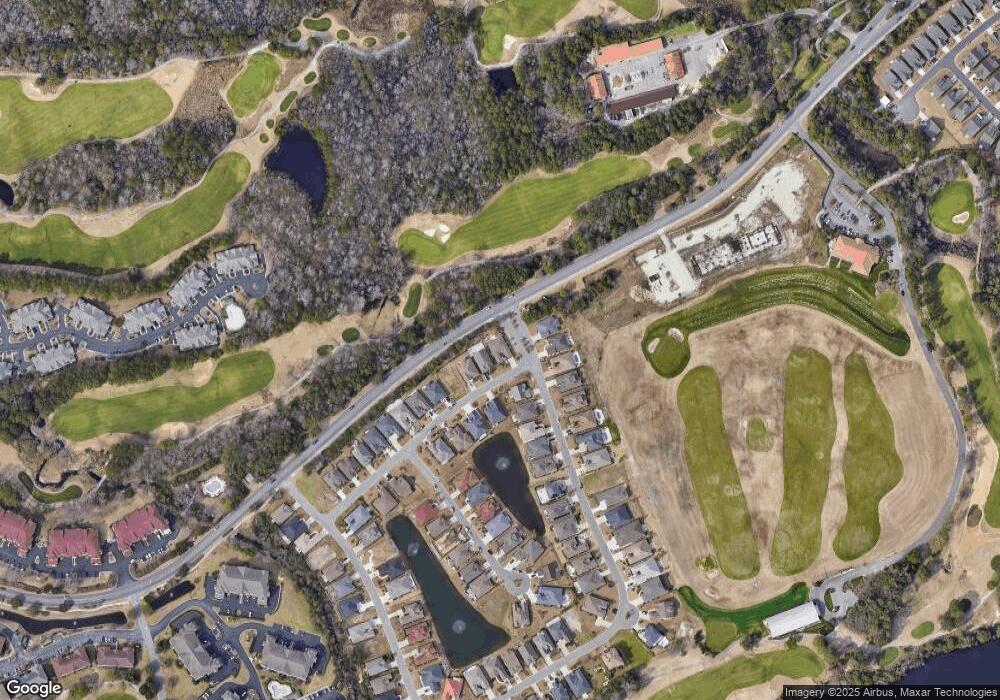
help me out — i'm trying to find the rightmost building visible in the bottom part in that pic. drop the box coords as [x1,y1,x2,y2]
[765,601,819,638]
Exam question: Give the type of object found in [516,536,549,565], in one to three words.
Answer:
house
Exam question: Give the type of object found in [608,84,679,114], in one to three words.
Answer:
shed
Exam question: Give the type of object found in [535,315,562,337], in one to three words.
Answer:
house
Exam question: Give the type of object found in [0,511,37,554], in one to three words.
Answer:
building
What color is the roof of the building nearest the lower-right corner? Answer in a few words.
white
